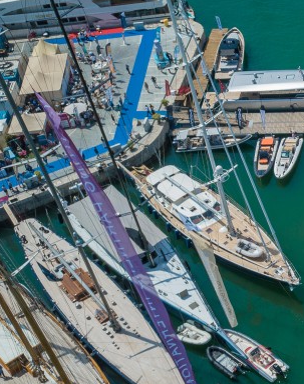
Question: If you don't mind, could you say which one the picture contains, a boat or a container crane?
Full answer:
Of the two, only a boat appears.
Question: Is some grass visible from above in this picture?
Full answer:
No, the scene doesn't show any grass.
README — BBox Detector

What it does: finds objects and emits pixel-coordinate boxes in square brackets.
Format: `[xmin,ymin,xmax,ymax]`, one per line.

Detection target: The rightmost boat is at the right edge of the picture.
[274,131,304,178]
